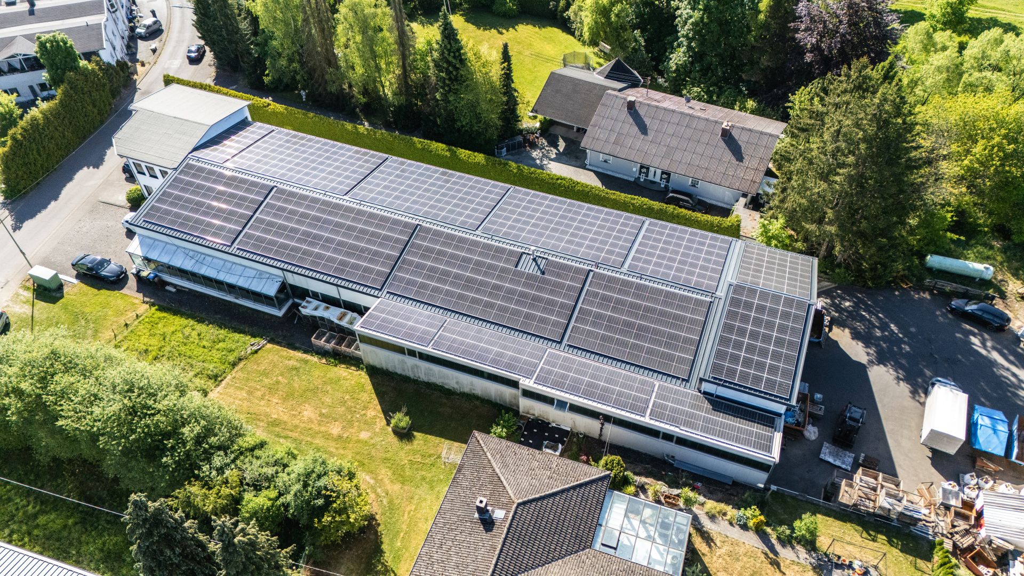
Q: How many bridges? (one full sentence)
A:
I count no bridges.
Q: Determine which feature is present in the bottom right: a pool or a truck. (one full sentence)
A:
It is a truck that can be seen in the bottom right.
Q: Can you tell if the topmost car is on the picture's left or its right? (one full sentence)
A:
The topmost car appears in the left half of the scene.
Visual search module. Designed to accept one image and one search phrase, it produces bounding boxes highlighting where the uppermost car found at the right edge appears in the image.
[946,296,1022,335]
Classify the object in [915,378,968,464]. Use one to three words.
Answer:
truck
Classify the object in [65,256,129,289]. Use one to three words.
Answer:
car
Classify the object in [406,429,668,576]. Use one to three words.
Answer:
house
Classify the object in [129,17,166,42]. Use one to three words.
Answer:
car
